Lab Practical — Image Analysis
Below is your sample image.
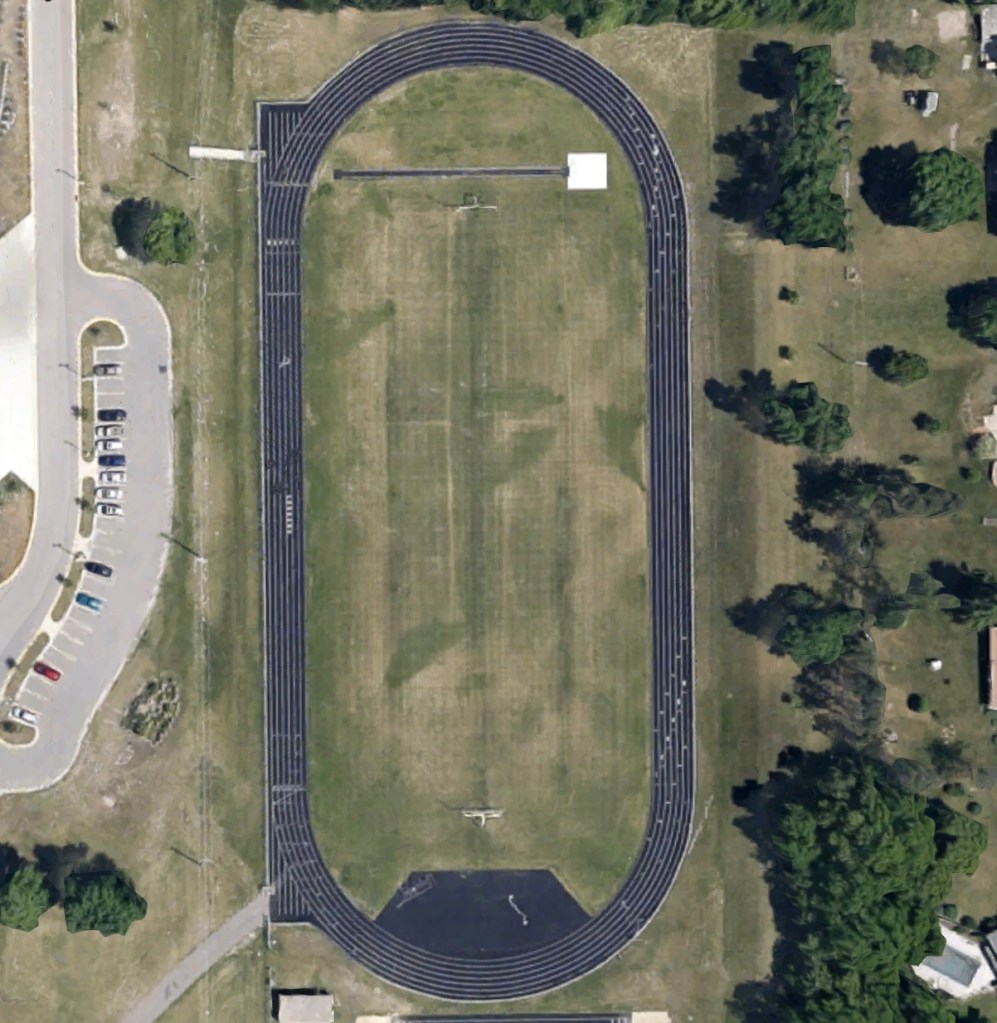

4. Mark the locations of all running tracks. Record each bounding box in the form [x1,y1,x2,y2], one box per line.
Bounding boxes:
[257,23,694,1000]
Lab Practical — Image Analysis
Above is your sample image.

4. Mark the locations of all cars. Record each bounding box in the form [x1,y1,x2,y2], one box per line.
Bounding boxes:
[9,705,38,724]
[76,593,104,609]
[96,503,124,515]
[33,661,62,681]
[98,454,126,468]
[96,488,123,498]
[84,561,113,576]
[100,471,127,483]
[95,440,123,452]
[97,408,127,422]
[96,425,123,437]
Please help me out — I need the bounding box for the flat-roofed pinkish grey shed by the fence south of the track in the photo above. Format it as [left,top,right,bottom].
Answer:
[277,993,333,1023]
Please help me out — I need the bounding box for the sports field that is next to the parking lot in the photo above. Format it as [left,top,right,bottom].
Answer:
[302,65,652,922]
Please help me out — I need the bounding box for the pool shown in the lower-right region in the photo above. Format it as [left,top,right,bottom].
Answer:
[910,921,995,999]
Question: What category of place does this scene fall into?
sports ground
